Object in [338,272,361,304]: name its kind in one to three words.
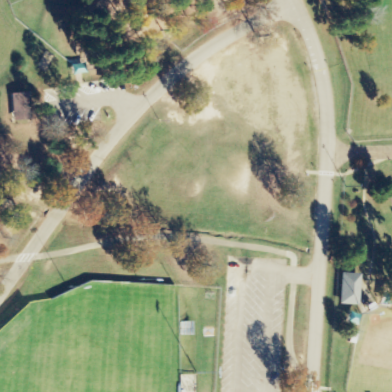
building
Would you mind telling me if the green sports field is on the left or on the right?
left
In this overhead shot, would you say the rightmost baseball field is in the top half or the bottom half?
bottom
